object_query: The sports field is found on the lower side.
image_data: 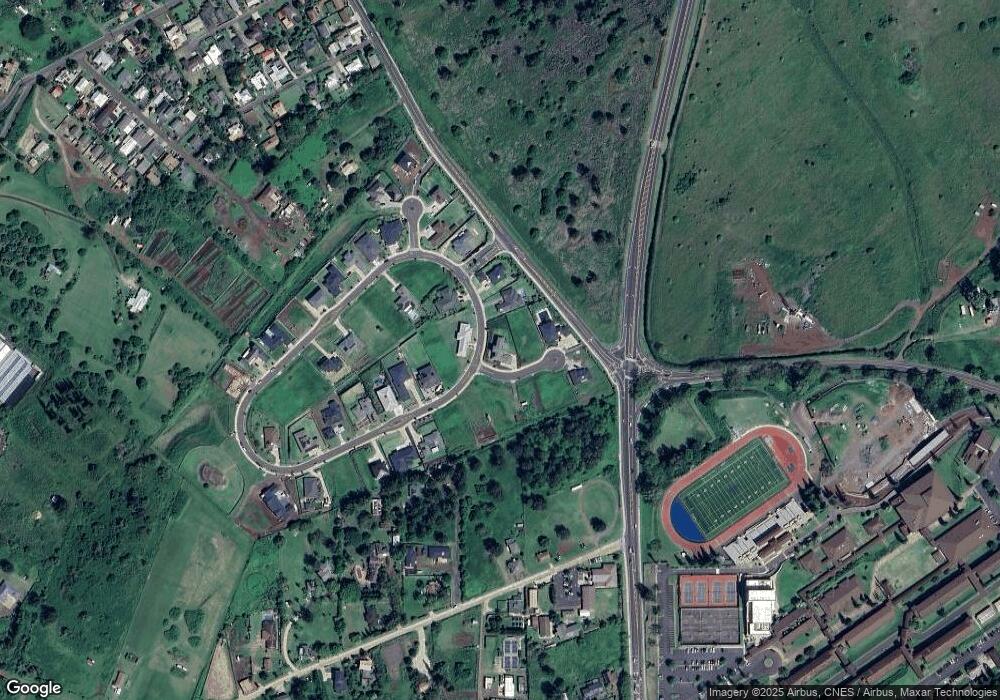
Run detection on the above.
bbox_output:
[676,437,791,542]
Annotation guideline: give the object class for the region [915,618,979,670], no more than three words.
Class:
building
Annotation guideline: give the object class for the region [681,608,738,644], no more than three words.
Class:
sports court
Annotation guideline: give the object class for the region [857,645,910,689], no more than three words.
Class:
building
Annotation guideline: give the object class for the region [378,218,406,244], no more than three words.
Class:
house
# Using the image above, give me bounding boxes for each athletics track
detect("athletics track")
[662,425,810,551]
